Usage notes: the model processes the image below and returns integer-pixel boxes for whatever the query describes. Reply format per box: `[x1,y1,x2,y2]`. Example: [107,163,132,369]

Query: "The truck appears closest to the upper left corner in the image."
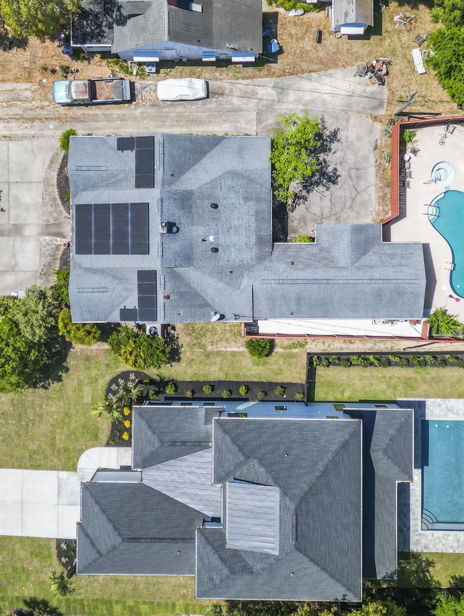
[52,71,133,106]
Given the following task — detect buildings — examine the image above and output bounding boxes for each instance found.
[71,0,262,65]
[76,402,415,603]
[68,134,426,324]
[294,0,373,41]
